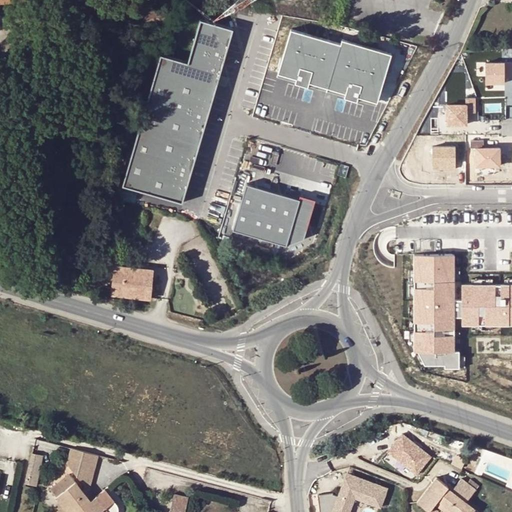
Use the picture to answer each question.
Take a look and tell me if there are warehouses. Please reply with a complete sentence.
Yes, a warehouse is visible in the scene.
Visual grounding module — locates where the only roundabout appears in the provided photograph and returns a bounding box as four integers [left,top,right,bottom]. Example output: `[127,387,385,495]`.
[221,283,392,452]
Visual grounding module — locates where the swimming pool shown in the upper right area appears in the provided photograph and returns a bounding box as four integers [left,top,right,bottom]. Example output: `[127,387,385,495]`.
[482,102,502,114]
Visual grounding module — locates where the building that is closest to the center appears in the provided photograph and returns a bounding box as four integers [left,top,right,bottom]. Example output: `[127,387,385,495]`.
[234,184,318,246]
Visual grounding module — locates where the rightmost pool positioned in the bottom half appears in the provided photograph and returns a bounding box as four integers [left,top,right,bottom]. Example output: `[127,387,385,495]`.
[475,450,512,488]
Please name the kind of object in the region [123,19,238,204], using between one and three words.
warehouse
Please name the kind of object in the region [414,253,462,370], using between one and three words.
building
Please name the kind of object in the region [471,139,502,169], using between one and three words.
house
